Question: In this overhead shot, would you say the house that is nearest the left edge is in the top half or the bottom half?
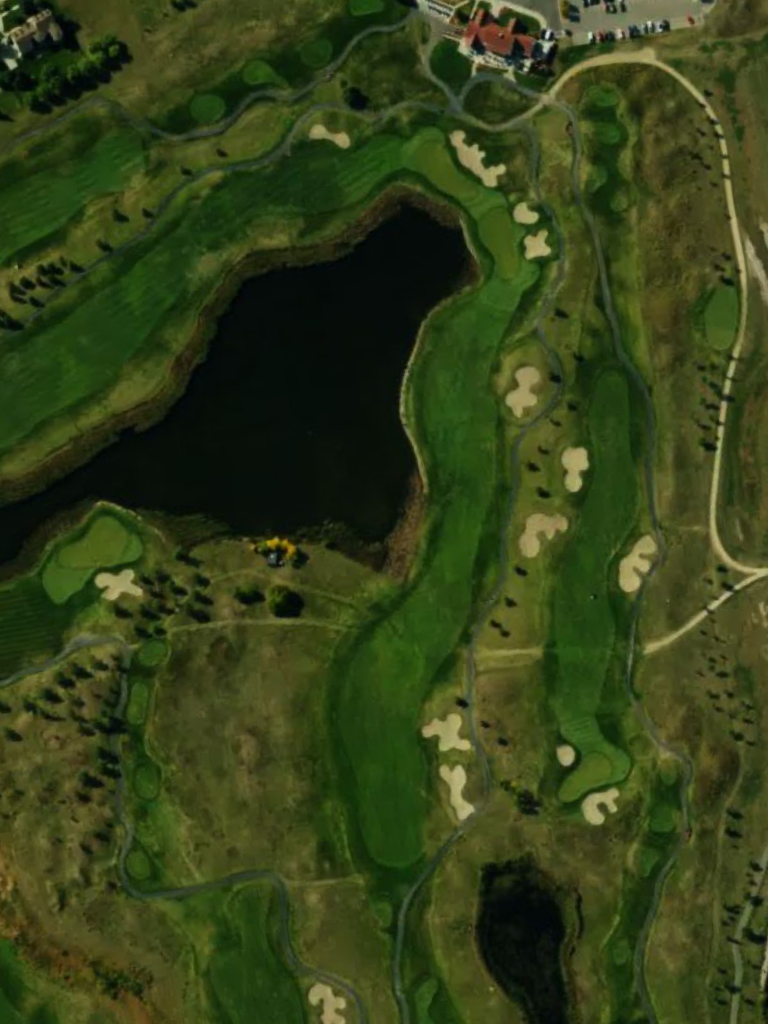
top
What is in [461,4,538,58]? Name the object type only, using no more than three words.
building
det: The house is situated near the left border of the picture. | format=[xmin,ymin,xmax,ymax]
[0,11,64,61]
